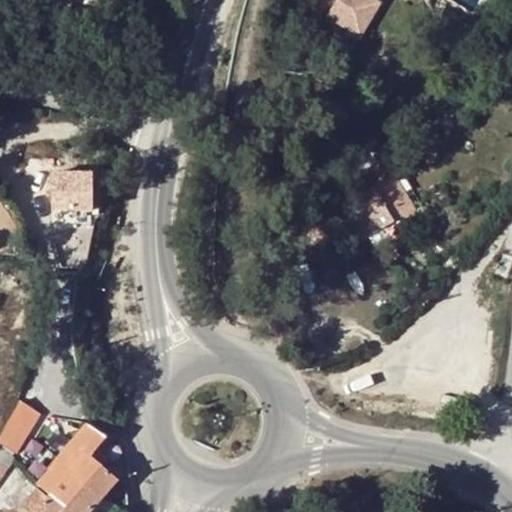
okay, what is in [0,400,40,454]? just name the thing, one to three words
shed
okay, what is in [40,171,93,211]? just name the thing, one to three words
house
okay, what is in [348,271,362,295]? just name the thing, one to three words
boat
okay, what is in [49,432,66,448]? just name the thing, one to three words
umbrella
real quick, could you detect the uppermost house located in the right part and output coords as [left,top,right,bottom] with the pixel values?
[325,0,382,34]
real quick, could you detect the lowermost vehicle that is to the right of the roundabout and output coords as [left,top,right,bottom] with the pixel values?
[344,374,376,392]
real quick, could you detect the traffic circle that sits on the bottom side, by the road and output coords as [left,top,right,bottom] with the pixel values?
[134,336,304,506]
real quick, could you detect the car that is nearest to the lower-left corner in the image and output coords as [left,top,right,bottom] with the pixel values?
[26,384,46,399]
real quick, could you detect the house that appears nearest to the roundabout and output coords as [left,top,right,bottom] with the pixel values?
[36,422,118,512]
